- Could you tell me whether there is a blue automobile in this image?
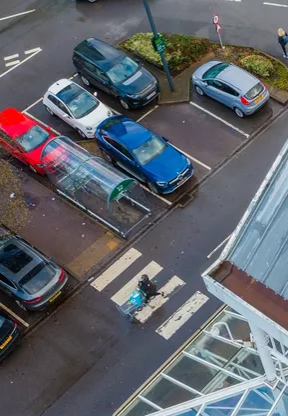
Yes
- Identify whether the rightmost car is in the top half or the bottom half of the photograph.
top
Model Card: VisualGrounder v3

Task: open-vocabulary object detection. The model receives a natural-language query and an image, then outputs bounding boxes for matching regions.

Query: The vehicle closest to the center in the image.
[87,114,192,193]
